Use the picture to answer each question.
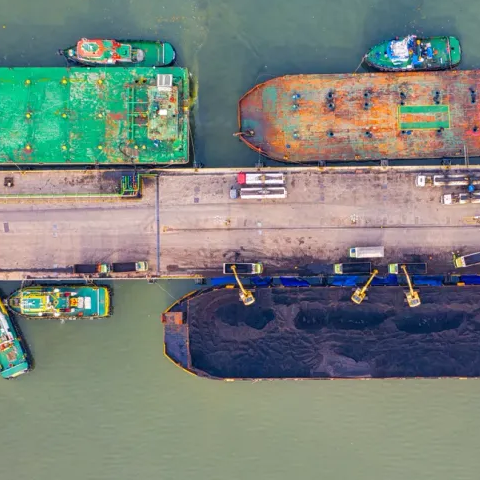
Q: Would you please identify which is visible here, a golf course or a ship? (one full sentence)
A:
Of the two, only a ship appears.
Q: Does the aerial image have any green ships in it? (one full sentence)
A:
Yes, a green ship appears in the view.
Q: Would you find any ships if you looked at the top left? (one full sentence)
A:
Yes, at the top left there is a ship.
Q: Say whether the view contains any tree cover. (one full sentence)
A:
No, tree cover can't be seen anywhere here.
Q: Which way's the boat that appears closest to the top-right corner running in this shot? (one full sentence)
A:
The boat that appears closest to the top-right corner is oriented from side to side.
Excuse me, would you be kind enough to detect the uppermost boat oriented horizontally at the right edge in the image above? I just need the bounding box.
[364,33,464,72]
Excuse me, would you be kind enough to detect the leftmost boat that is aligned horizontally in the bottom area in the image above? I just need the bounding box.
[4,285,116,319]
